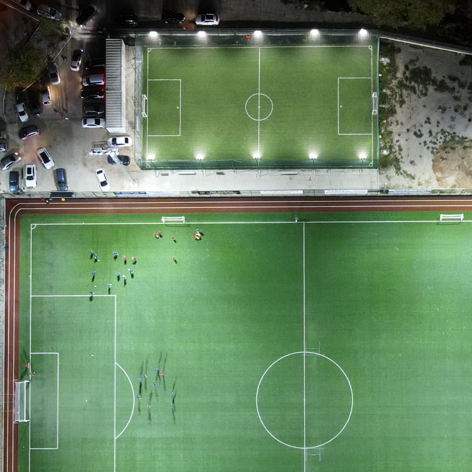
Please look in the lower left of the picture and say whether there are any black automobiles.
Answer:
No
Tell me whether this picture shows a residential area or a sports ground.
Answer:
sports ground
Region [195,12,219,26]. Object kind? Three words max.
car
